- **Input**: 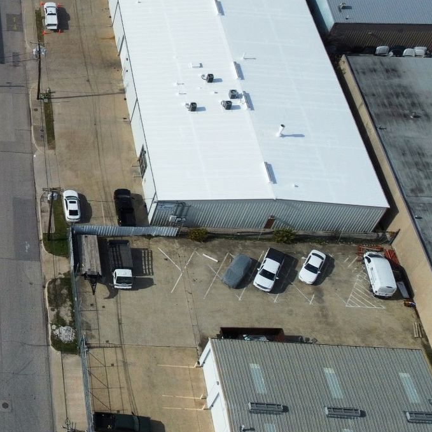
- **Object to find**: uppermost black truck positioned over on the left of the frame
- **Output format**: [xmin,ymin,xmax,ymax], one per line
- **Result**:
[112,186,138,222]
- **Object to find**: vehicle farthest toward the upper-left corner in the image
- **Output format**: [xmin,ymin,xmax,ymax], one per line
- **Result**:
[43,2,60,32]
